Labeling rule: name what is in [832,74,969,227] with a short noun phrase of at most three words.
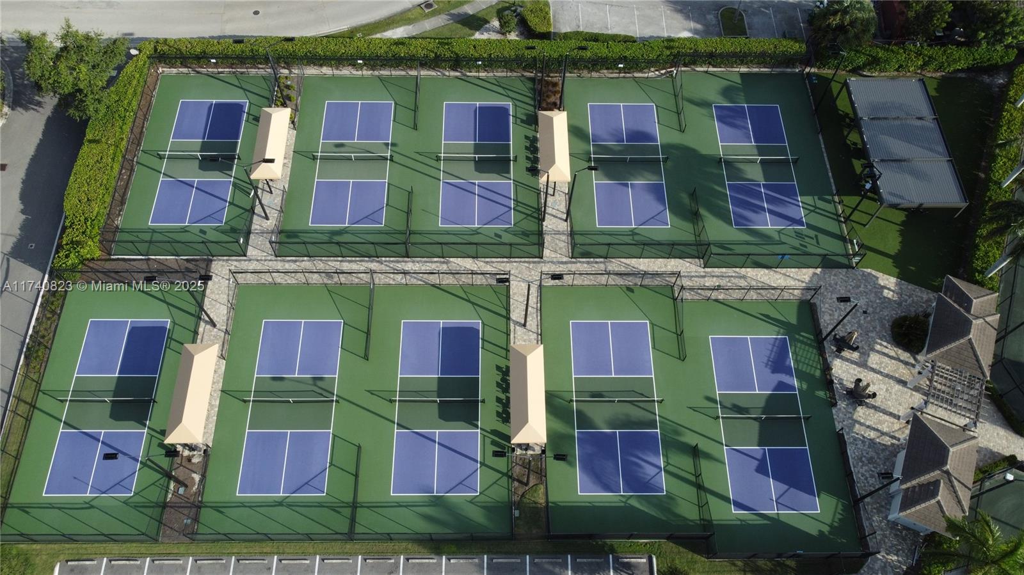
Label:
building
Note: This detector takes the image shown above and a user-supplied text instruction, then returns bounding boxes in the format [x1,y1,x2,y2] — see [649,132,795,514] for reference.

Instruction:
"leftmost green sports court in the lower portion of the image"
[0,285,208,541]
